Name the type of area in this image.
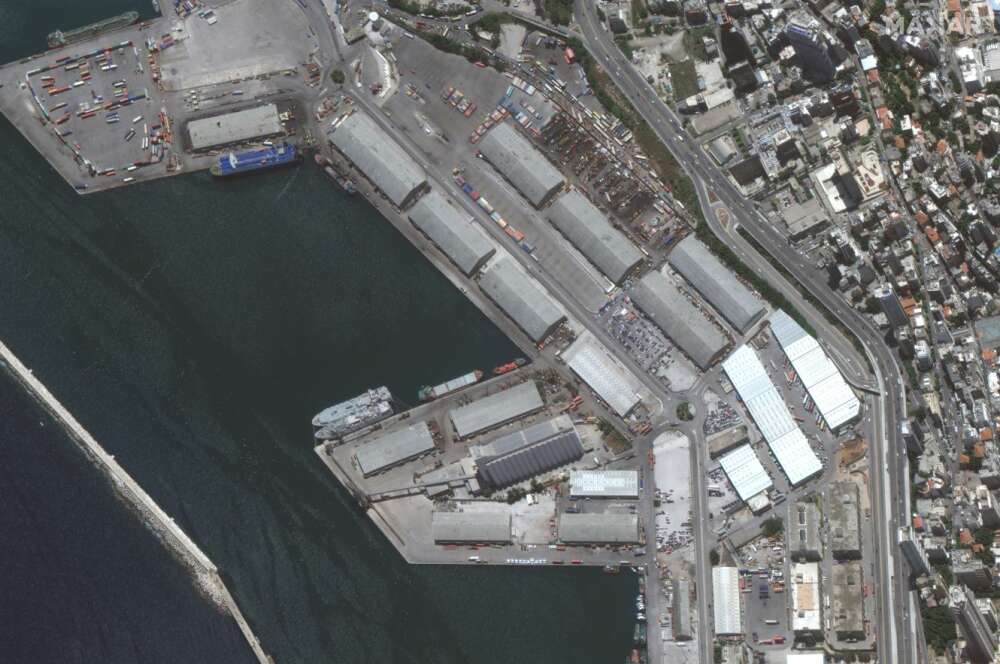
port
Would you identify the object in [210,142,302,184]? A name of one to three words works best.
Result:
ship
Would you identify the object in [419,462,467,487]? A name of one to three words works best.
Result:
shed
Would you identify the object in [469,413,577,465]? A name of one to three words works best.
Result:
building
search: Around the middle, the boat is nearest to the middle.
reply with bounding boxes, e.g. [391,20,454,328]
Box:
[493,359,528,376]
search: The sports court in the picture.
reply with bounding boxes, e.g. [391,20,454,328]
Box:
[975,314,1000,347]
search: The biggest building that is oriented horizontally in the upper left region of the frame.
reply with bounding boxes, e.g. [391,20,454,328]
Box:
[188,103,283,152]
